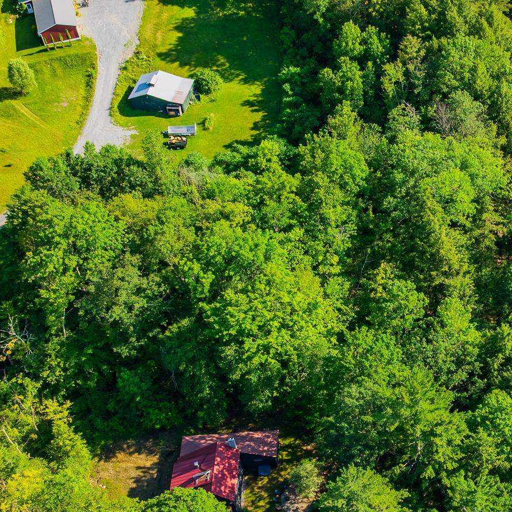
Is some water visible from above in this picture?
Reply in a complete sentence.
No, the scene doesn't show any water.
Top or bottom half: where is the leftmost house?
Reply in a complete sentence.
It is in the top half that the leftmost house appears.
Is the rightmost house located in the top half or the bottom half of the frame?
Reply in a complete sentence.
The rightmost house sits in the bottom half of the picture.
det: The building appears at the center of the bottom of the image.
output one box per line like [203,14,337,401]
[173,428,278,512]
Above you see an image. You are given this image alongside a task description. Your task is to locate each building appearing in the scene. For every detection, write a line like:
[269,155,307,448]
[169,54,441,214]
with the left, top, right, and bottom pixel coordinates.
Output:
[128,68,201,114]
[12,0,81,44]
[173,428,278,512]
